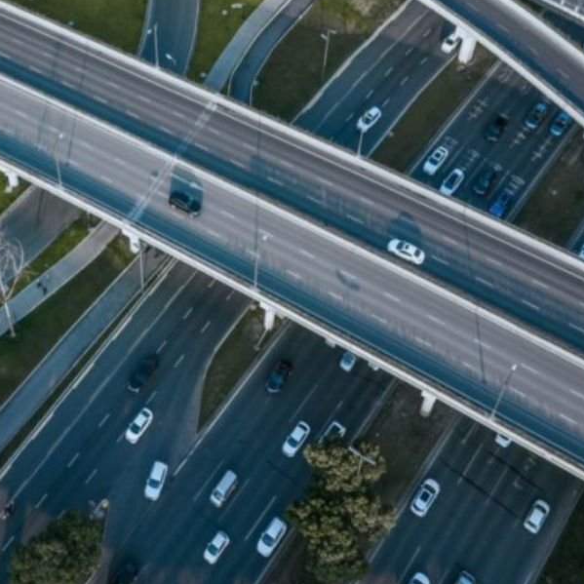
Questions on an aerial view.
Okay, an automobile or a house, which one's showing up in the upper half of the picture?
automobile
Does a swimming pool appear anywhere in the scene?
No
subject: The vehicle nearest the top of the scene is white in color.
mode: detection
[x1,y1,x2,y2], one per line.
[440,32,463,54]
